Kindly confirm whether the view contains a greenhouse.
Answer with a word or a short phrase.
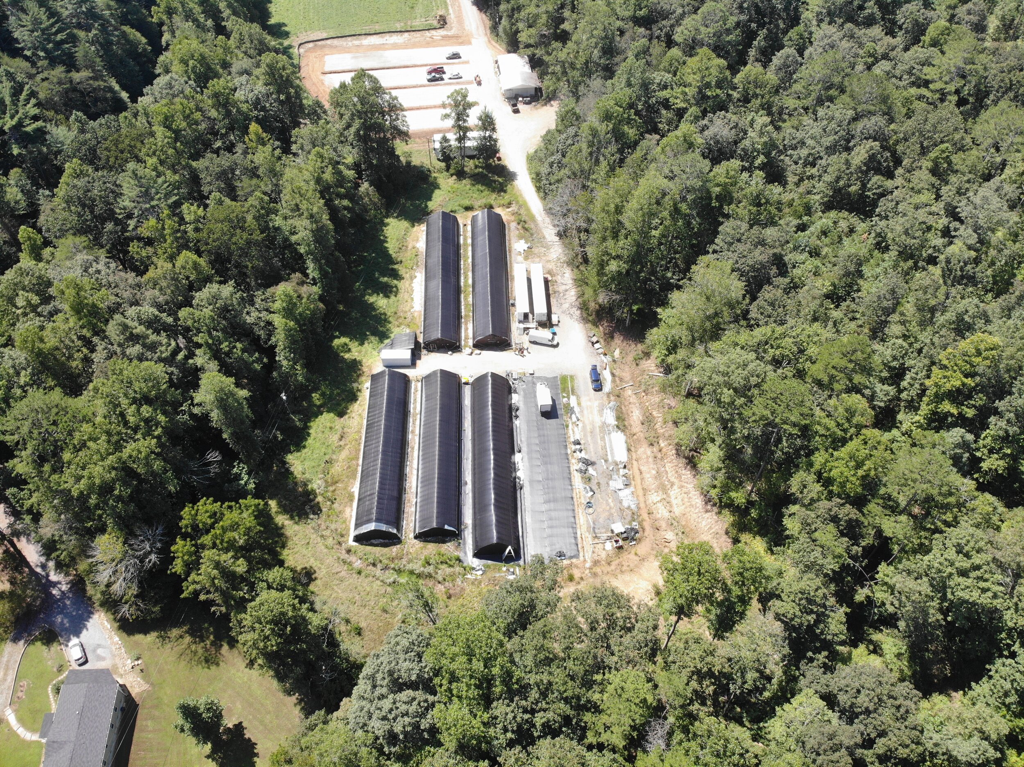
Yes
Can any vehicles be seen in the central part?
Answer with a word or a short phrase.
Yes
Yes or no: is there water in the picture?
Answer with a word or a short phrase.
No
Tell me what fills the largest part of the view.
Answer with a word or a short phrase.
trees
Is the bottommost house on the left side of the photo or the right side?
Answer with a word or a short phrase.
left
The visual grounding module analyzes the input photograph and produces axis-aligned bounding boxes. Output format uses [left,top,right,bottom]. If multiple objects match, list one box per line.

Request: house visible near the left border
[34,670,128,767]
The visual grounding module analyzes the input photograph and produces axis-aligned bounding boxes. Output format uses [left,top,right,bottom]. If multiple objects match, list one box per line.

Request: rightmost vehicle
[588,362,605,391]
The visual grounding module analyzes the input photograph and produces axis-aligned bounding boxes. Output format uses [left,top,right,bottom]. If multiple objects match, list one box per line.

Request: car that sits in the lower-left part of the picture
[63,634,85,668]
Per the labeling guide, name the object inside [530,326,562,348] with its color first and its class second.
white vehicle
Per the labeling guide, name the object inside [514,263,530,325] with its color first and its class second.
white trailer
